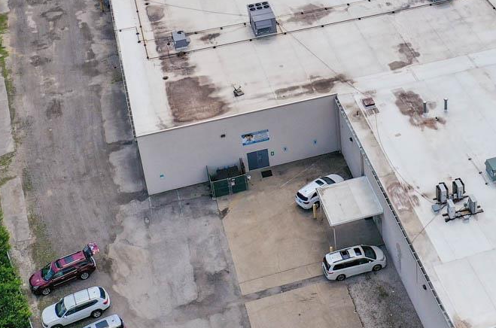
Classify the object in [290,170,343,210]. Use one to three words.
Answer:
car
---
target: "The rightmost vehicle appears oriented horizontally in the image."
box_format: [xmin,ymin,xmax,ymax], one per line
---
[320,240,389,280]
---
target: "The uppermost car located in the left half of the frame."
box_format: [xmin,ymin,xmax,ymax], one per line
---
[24,235,105,294]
